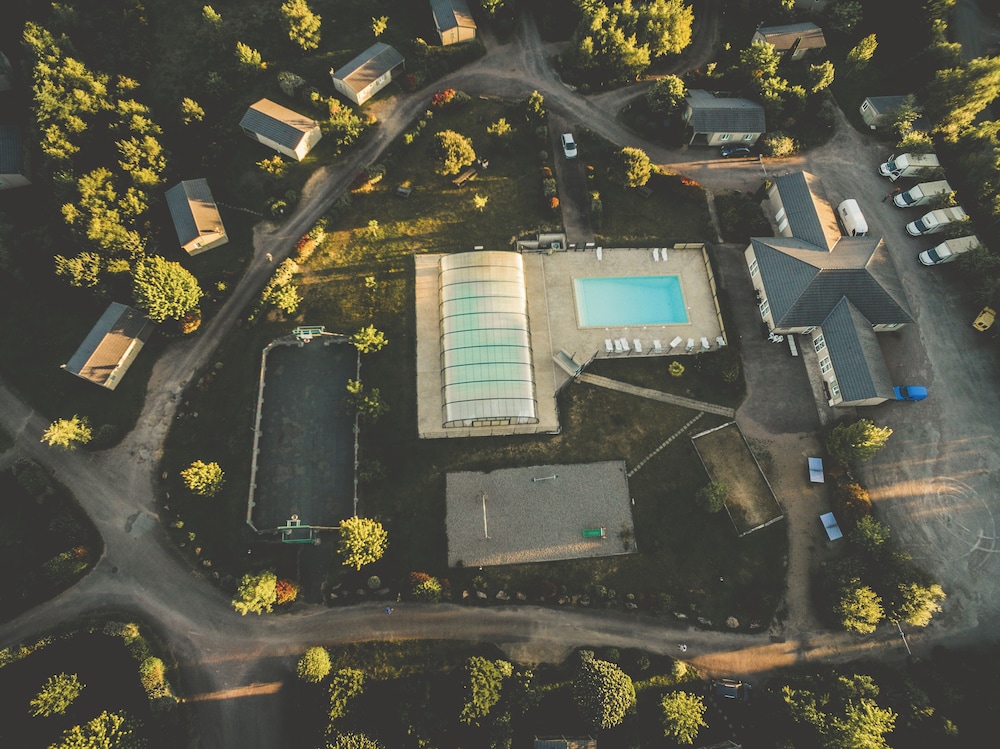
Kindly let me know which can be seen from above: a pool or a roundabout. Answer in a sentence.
The image shows a pool.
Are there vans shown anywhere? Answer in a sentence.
Yes, you can see a van in this photo.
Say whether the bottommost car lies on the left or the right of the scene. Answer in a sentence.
The bottommost car appears in the right half of the scene.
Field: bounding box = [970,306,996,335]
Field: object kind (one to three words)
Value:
car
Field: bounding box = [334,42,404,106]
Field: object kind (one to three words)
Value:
building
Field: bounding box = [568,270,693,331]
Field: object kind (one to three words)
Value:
swimming pool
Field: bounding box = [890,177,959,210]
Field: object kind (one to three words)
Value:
camper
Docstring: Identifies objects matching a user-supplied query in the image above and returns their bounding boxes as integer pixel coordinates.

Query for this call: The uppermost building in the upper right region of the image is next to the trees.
[758,21,828,65]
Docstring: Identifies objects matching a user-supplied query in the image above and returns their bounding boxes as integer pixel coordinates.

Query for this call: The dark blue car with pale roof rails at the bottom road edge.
[707,678,754,705]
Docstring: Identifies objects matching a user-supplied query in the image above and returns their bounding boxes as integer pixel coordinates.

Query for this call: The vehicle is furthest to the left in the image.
[561,131,579,161]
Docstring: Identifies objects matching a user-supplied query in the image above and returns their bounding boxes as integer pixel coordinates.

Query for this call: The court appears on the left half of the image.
[250,343,359,530]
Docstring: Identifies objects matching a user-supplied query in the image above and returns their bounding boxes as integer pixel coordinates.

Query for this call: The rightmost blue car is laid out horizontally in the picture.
[890,385,931,403]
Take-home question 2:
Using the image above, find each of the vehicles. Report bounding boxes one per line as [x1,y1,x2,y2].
[890,385,931,403]
[876,150,944,185]
[902,203,974,238]
[915,231,986,269]
[707,678,754,705]
[561,131,579,161]
[890,177,959,210]
[970,306,996,335]
[833,197,869,235]
[720,144,752,160]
